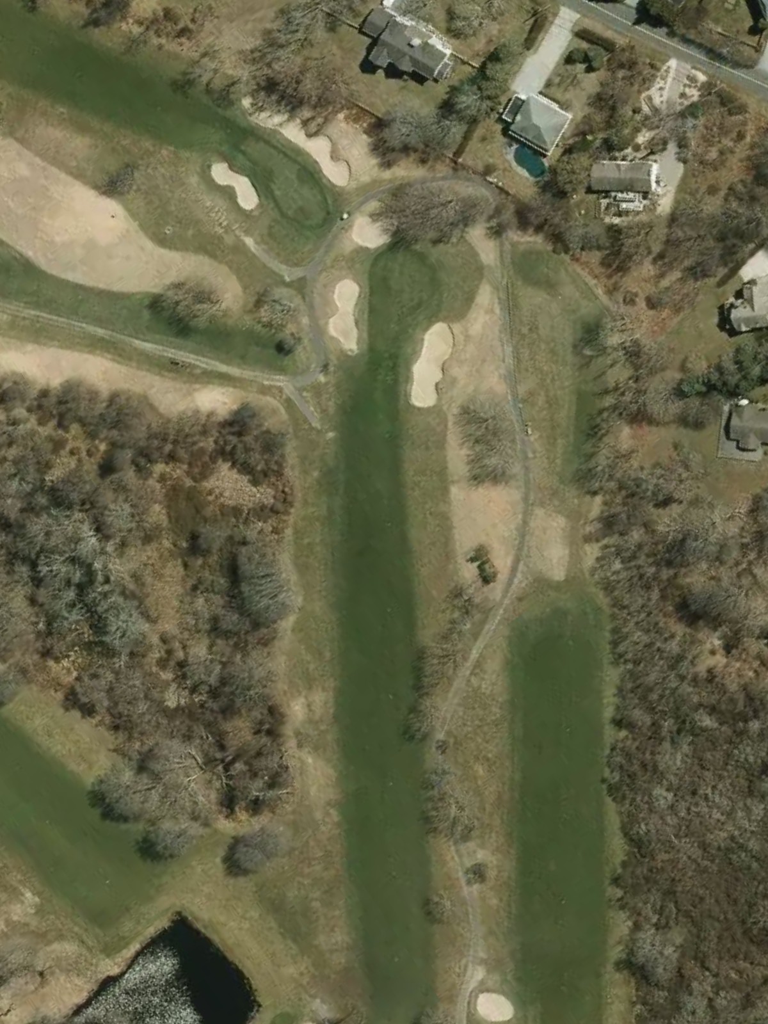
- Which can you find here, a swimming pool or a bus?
swimming pool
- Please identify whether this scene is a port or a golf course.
golf course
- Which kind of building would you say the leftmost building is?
house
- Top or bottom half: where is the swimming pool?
top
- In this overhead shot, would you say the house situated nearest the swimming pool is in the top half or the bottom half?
top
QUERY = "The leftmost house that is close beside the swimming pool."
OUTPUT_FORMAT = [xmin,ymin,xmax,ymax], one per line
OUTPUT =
[502,93,571,155]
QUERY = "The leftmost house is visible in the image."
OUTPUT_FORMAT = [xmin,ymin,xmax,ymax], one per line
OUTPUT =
[363,7,452,79]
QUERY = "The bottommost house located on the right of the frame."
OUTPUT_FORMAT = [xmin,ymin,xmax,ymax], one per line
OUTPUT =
[717,404,768,462]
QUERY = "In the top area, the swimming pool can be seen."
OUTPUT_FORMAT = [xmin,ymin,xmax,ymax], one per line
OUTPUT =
[509,142,548,182]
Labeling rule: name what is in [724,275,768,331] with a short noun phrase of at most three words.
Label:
house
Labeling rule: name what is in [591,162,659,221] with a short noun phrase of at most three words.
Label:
house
